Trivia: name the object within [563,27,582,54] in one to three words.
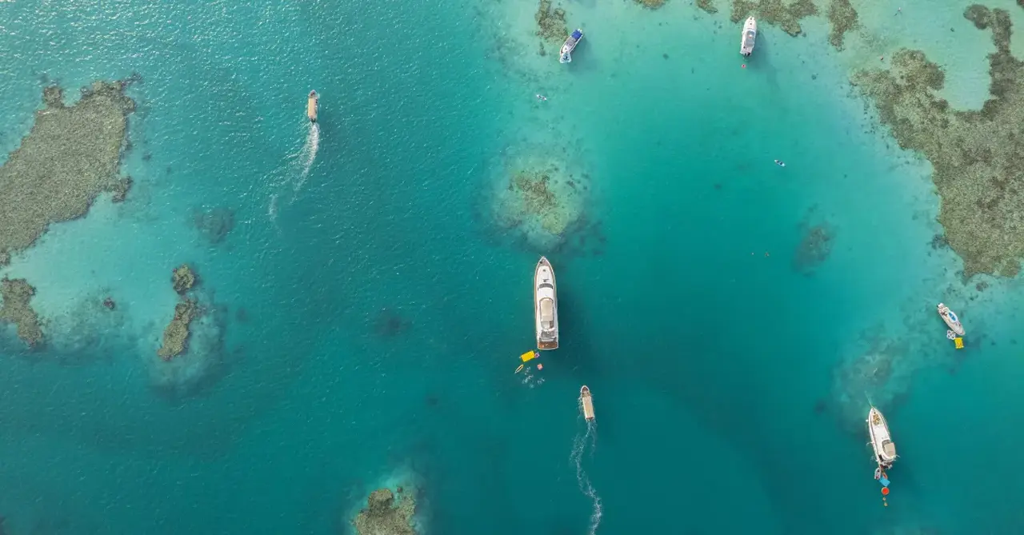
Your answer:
boat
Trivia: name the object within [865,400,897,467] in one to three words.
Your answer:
boat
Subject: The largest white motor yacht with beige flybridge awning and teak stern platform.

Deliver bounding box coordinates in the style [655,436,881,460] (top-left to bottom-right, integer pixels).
[534,252,558,350]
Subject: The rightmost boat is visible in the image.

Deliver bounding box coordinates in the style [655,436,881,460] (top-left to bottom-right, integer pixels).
[934,306,965,333]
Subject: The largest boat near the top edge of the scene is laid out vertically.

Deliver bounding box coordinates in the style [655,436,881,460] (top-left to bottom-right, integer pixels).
[740,16,756,57]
